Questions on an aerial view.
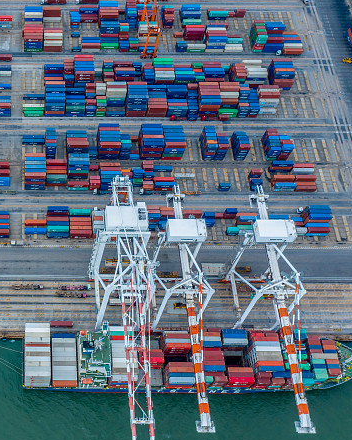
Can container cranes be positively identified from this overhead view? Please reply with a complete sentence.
Yes, a container crane can be made out from above.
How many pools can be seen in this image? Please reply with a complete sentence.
The photo contains no pools.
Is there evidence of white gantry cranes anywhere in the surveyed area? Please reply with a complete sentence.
Yes, this view includes a white gantry crane.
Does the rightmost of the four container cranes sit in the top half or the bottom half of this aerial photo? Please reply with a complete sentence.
The rightmost of the four container cranes is in the bottom half of the image.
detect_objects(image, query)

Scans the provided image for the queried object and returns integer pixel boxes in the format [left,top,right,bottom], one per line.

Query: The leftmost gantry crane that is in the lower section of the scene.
[84,167,160,440]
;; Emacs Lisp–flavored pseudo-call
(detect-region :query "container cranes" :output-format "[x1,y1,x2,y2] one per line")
[146,183,217,428]
[217,184,317,430]
[140,4,163,58]
[84,167,160,440]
